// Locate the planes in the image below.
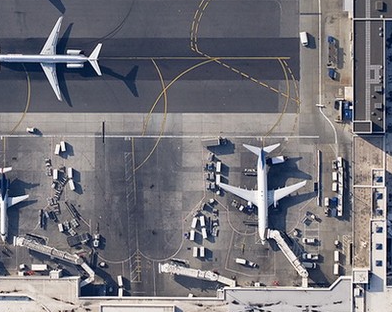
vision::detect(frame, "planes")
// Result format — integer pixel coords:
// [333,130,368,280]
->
[0,17,102,99]
[0,166,30,239]
[220,145,307,244]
